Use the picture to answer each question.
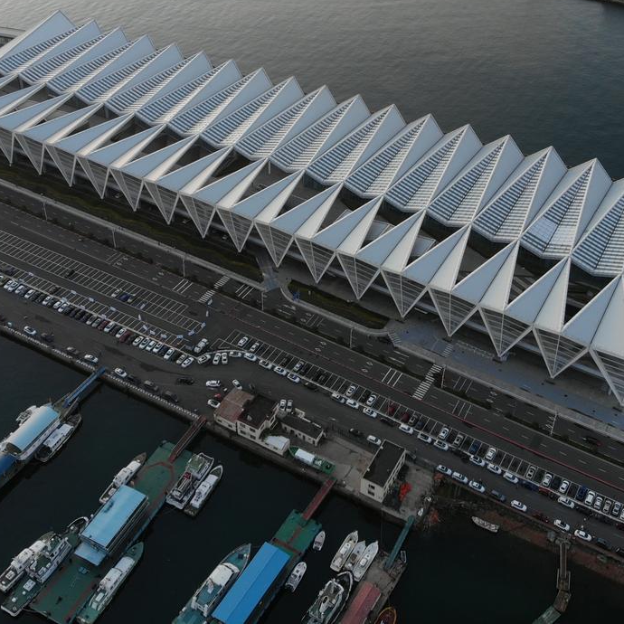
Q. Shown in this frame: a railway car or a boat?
boat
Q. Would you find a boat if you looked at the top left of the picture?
No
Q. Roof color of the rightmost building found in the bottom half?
black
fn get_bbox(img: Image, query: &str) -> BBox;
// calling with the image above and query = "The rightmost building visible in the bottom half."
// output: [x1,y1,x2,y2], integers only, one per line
[362,439,406,501]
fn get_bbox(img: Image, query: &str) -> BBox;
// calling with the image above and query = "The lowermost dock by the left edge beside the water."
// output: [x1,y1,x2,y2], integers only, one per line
[29,440,193,624]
